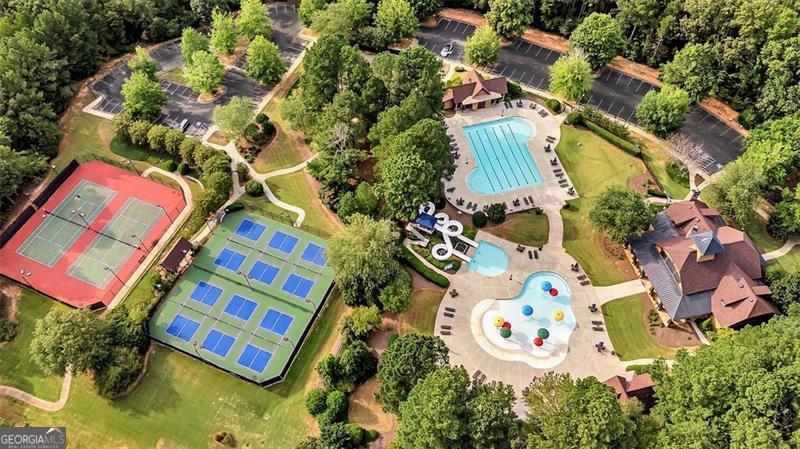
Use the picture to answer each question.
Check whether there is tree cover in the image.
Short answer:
Yes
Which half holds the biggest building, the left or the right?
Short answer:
right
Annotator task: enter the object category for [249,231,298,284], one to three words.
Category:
sports court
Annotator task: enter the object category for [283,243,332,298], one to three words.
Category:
sports court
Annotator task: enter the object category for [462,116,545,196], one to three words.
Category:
swimming pool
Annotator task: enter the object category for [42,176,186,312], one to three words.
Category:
tennis court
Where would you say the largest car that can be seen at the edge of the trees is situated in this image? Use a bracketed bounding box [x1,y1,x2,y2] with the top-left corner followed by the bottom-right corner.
[177,117,190,130]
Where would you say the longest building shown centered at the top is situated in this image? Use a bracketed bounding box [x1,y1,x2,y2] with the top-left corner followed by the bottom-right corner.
[439,71,508,112]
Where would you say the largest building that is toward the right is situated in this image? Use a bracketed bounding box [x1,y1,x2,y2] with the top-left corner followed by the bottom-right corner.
[622,181,777,333]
